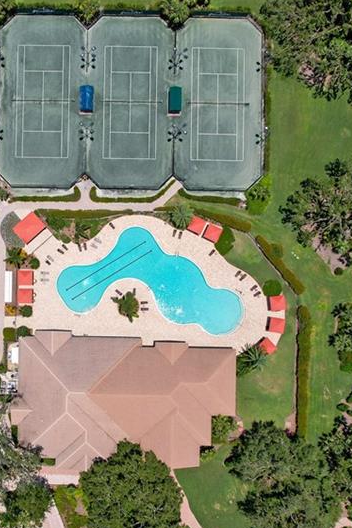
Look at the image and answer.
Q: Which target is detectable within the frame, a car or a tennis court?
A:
tennis court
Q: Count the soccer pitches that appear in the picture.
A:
zero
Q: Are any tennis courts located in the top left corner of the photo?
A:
Yes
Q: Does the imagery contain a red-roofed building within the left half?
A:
Yes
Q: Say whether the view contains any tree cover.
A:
Yes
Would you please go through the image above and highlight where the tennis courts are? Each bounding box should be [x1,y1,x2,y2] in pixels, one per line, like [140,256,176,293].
[0,16,87,188]
[173,18,263,190]
[86,16,175,189]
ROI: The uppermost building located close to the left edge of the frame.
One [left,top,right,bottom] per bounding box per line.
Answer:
[12,211,47,246]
